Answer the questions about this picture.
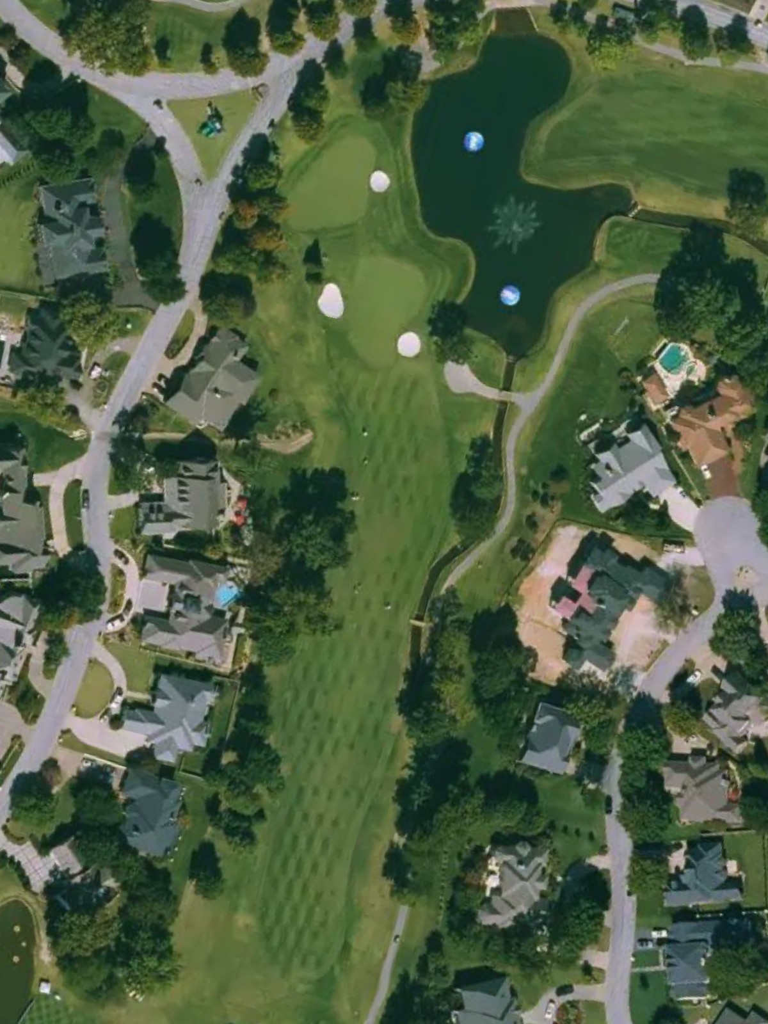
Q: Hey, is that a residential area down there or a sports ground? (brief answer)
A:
residential area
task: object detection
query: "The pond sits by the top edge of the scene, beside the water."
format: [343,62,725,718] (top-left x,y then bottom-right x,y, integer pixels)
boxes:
[411,9,635,362]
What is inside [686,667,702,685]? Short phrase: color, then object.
white car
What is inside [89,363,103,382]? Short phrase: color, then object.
white car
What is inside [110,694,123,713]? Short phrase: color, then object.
white vehicle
